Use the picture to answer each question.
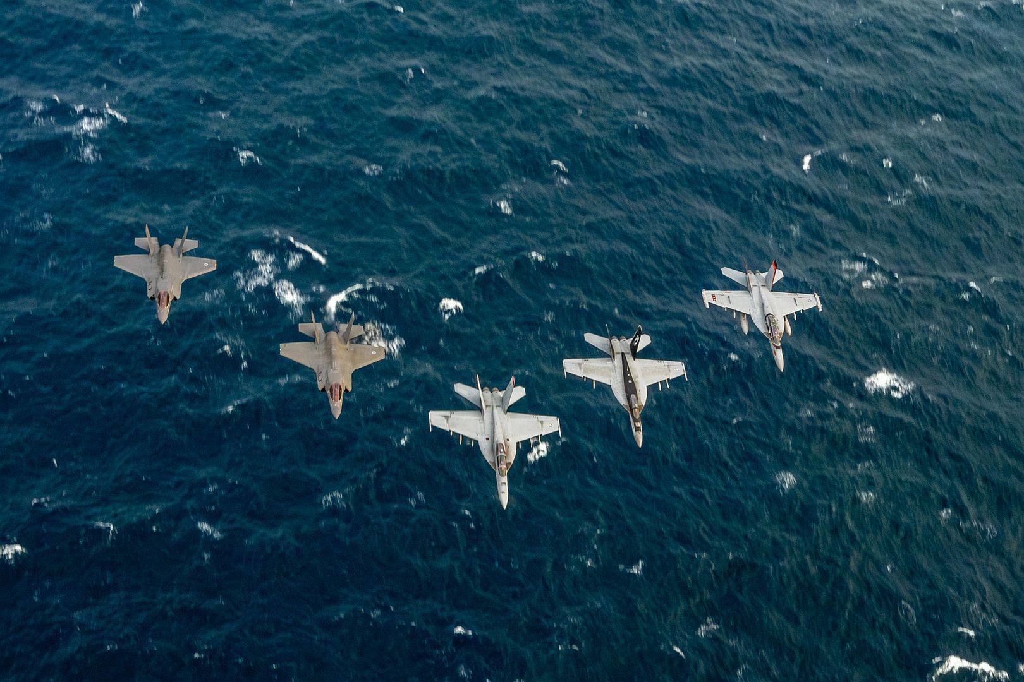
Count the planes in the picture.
5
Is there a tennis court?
No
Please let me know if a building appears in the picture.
No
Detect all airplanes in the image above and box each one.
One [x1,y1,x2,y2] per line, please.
[701,260,822,372]
[279,312,385,419]
[429,376,560,509]
[114,224,217,324]
[562,325,686,448]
